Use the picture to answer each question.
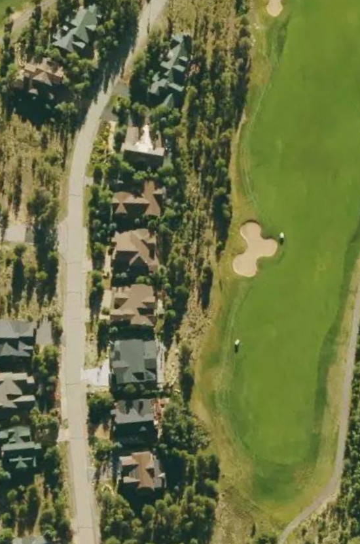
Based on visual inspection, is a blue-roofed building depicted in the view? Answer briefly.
No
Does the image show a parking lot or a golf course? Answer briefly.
golf course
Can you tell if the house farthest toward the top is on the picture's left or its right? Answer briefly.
left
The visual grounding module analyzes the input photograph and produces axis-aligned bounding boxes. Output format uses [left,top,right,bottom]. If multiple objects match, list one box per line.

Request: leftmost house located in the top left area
[19,59,66,93]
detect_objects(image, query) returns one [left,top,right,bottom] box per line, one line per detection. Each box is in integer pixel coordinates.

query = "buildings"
[109,284,165,328]
[114,397,163,443]
[19,59,66,93]
[120,125,167,170]
[107,227,162,274]
[0,425,43,469]
[119,450,165,489]
[109,339,165,384]
[111,179,168,217]
[0,369,36,411]
[0,320,35,360]
[51,1,100,54]
[3,535,48,544]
